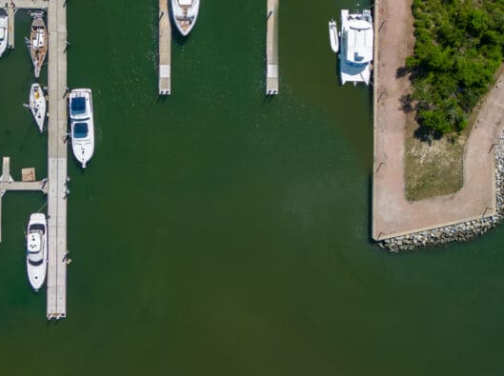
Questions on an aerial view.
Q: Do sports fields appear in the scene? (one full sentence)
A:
No, I can see no sports field in this picture.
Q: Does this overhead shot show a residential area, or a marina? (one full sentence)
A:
The picture captures a marina.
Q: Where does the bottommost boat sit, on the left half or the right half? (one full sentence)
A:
The bottommost boat appears in the left half of the scene.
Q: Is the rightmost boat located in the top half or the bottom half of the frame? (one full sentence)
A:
Seen from above, the rightmost boat lies in the top half of the view.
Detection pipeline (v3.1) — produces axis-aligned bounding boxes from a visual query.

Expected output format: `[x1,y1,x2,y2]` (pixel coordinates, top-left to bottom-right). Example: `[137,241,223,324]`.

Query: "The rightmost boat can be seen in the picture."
[339,10,373,85]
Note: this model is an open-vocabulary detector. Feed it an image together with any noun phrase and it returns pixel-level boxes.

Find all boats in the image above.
[171,0,200,36]
[328,18,339,52]
[30,20,46,73]
[28,206,50,291]
[66,89,94,169]
[0,17,9,57]
[29,84,46,130]
[29,10,44,15]
[339,10,373,85]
